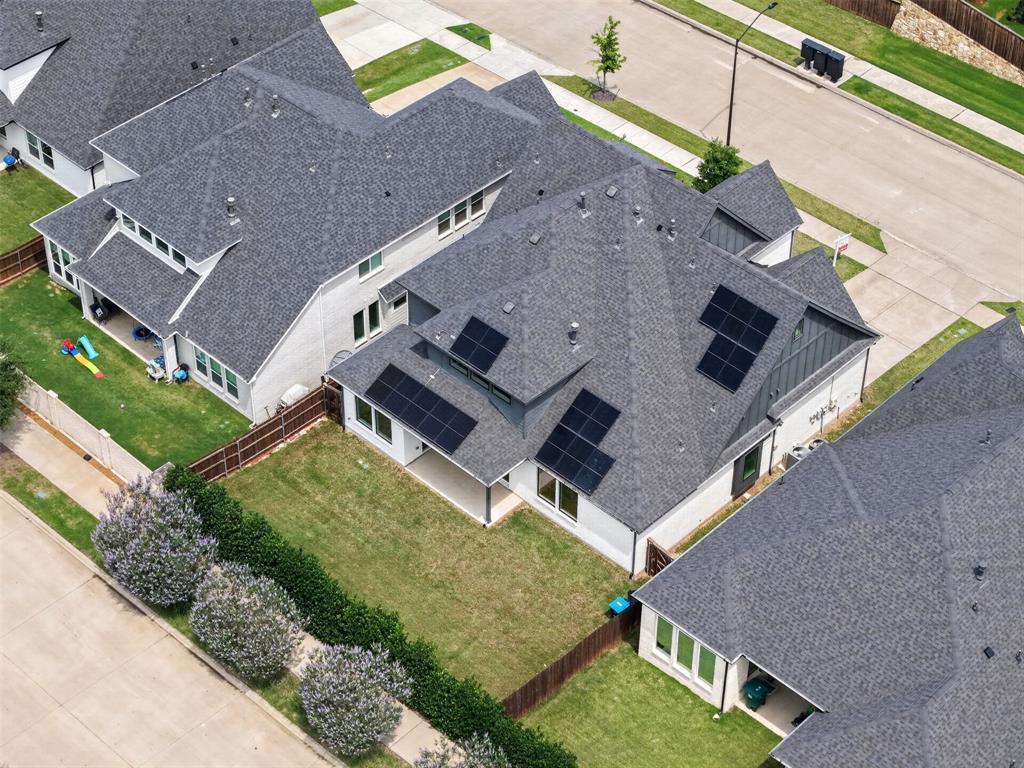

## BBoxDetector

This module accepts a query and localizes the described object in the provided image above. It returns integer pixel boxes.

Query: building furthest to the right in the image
[631,313,1024,768]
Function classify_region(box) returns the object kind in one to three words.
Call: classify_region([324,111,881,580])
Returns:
house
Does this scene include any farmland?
No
